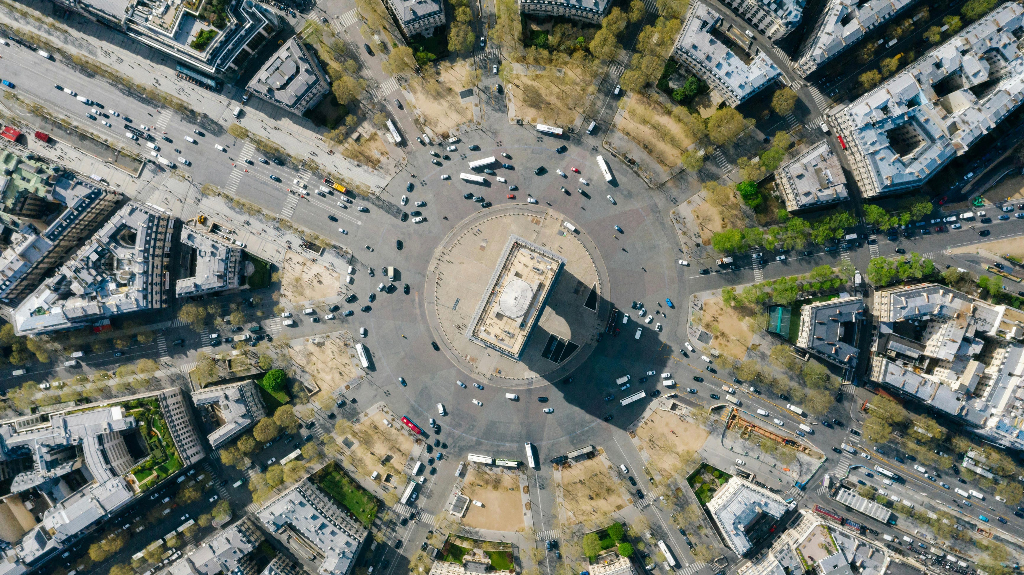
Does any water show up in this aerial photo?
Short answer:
No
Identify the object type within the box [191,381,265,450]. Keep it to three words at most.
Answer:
house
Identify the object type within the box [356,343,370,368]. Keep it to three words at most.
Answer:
vehicle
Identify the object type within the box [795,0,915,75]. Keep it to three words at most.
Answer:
building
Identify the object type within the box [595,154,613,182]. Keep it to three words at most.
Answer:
vehicle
